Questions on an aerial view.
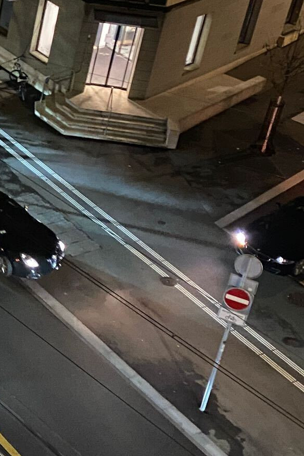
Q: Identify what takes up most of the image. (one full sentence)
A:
The largest share of the image is taken up by paved ground.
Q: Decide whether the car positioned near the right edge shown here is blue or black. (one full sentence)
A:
In this view, the car positioned near the right edge is black.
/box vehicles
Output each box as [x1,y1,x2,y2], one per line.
[232,188,304,276]
[0,191,71,278]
